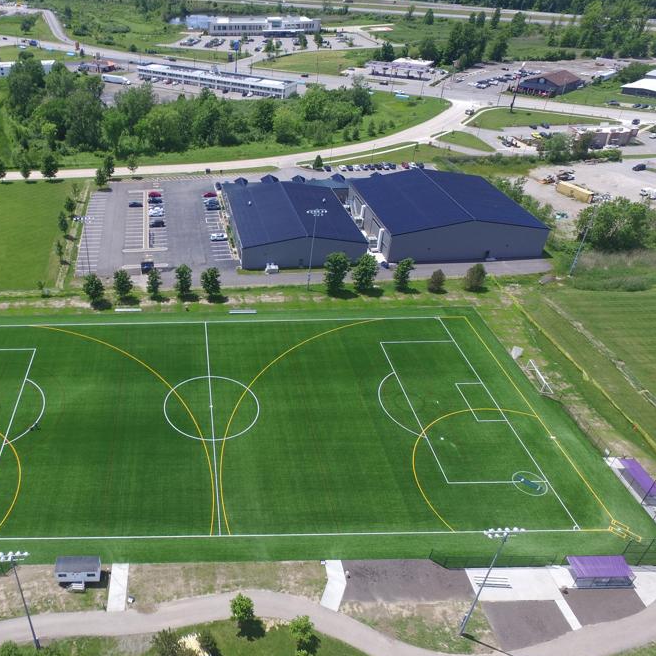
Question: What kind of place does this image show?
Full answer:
It's a sports ground.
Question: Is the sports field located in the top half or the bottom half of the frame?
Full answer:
The bottom half of the photo is where the sports field is.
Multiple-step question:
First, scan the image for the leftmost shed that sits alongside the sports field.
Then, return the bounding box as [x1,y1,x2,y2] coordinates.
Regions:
[51,556,101,595]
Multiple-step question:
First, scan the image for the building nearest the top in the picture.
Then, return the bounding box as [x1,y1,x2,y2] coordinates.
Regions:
[209,16,327,36]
